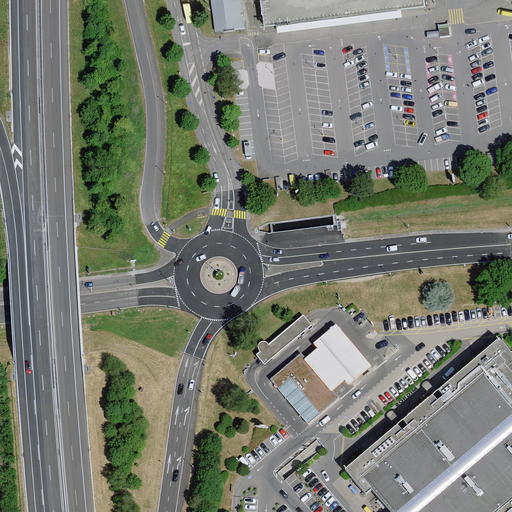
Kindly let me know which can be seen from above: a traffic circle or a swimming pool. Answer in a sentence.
It is a traffic circle that can be seen here.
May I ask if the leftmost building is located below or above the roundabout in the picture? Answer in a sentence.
You can see the leftmost building above the roundabout in the frame.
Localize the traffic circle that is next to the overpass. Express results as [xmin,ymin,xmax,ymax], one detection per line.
[136,186,264,360]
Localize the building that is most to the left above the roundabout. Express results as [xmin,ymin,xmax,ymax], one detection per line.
[213,0,244,34]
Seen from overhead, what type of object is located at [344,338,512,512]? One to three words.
building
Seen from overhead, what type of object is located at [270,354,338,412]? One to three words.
building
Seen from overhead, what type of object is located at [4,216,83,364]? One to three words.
overpass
